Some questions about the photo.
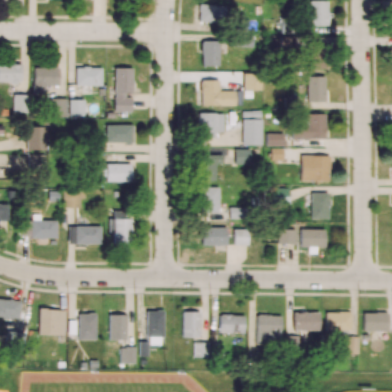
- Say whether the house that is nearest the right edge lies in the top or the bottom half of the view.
bottom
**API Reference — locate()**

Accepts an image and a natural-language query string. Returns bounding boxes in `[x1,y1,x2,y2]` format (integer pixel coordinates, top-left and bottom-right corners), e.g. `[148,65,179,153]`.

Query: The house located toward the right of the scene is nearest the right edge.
[365,313,391,332]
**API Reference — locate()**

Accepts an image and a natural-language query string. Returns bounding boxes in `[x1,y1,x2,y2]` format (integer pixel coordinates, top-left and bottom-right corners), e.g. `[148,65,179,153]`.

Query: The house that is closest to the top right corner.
[311,0,331,26]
